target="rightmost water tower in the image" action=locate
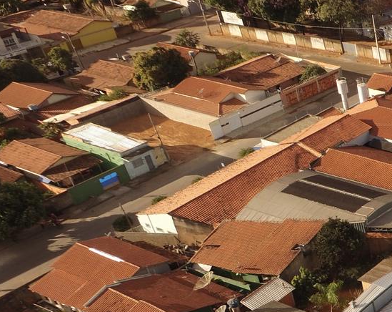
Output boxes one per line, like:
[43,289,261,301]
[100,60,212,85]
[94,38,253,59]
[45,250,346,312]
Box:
[355,69,372,104]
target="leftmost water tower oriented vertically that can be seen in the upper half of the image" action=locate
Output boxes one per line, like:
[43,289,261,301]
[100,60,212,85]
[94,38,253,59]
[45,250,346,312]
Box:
[333,66,348,106]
